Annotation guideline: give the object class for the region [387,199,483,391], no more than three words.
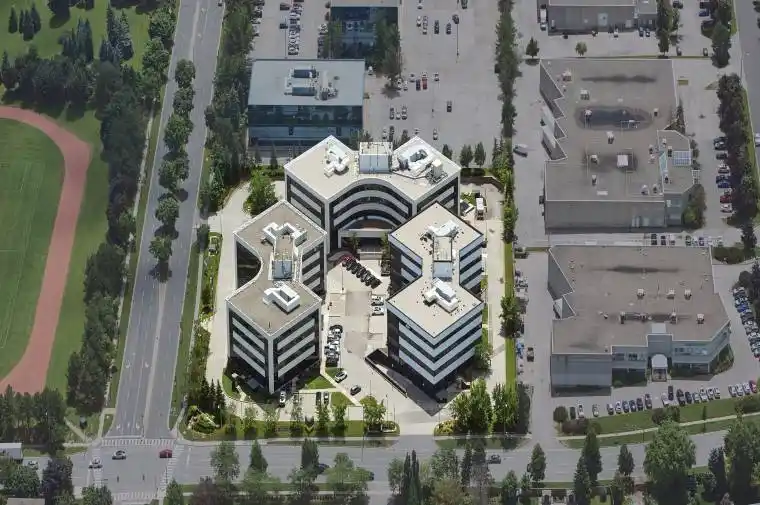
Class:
building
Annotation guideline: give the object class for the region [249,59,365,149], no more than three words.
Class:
building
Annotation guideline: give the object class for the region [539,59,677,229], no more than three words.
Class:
warehouse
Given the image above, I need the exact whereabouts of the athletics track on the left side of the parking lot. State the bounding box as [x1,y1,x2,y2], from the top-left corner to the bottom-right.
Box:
[0,105,91,397]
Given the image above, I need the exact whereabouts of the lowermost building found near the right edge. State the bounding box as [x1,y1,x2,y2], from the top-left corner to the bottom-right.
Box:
[547,245,730,385]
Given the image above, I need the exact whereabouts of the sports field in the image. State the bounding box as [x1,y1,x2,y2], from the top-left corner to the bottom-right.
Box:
[0,119,65,379]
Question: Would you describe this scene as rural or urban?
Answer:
urban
